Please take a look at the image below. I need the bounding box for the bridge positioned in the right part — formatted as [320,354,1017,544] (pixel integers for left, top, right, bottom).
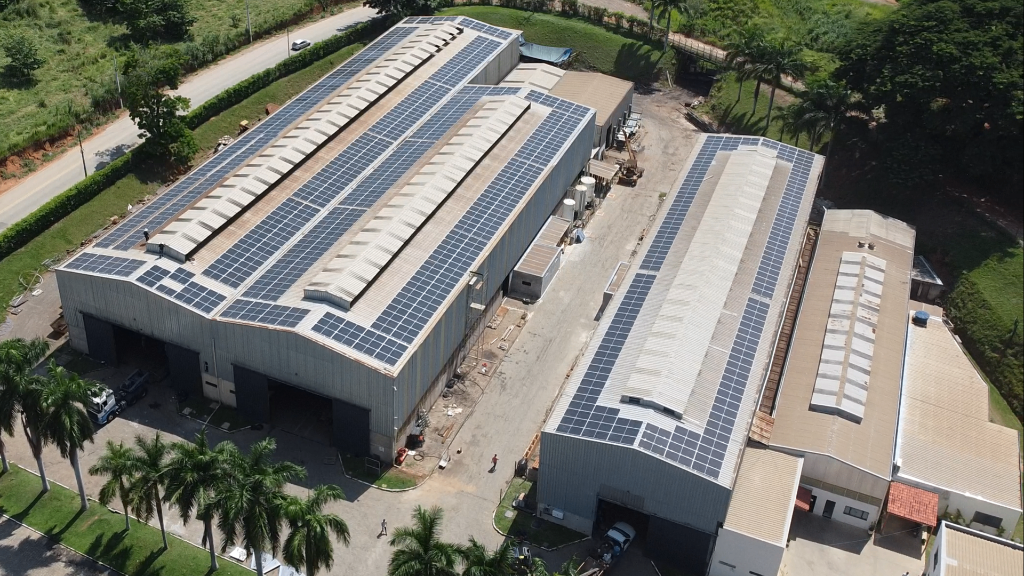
[670,33,740,79]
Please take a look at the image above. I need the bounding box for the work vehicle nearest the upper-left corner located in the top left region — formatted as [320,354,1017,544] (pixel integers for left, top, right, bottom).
[232,119,250,134]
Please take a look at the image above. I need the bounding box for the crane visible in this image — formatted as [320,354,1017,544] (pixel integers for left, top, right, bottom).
[618,118,648,185]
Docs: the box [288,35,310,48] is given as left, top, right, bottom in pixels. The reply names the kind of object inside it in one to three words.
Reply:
vehicle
